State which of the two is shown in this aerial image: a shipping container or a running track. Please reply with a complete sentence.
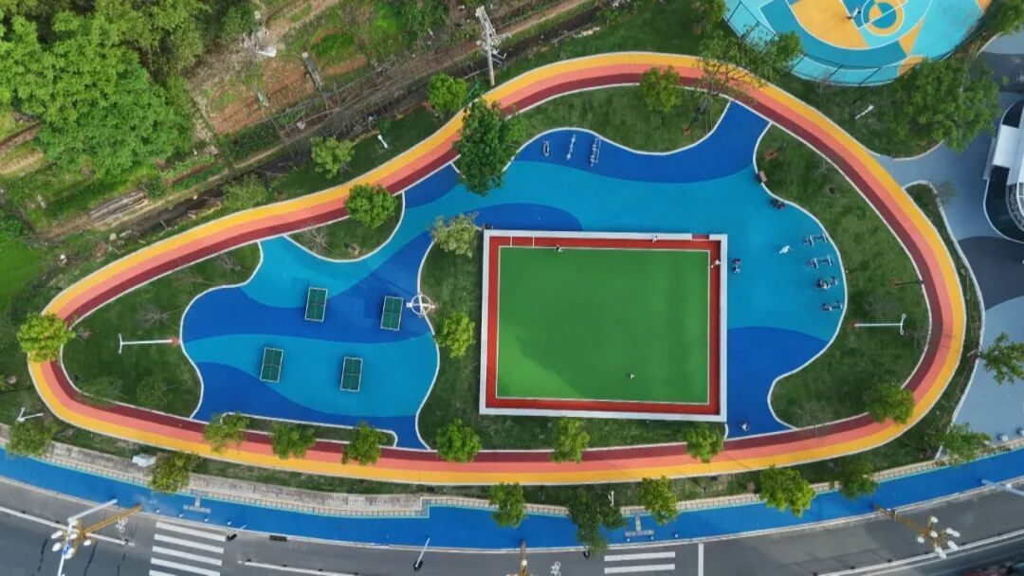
There is a running track in the scene.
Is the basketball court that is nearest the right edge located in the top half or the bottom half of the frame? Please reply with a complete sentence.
The basketball court that is nearest the right edge sits in the top half of the picture.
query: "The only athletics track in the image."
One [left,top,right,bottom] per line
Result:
[27,50,968,487]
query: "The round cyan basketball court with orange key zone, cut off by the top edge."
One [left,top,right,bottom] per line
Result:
[712,0,990,87]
